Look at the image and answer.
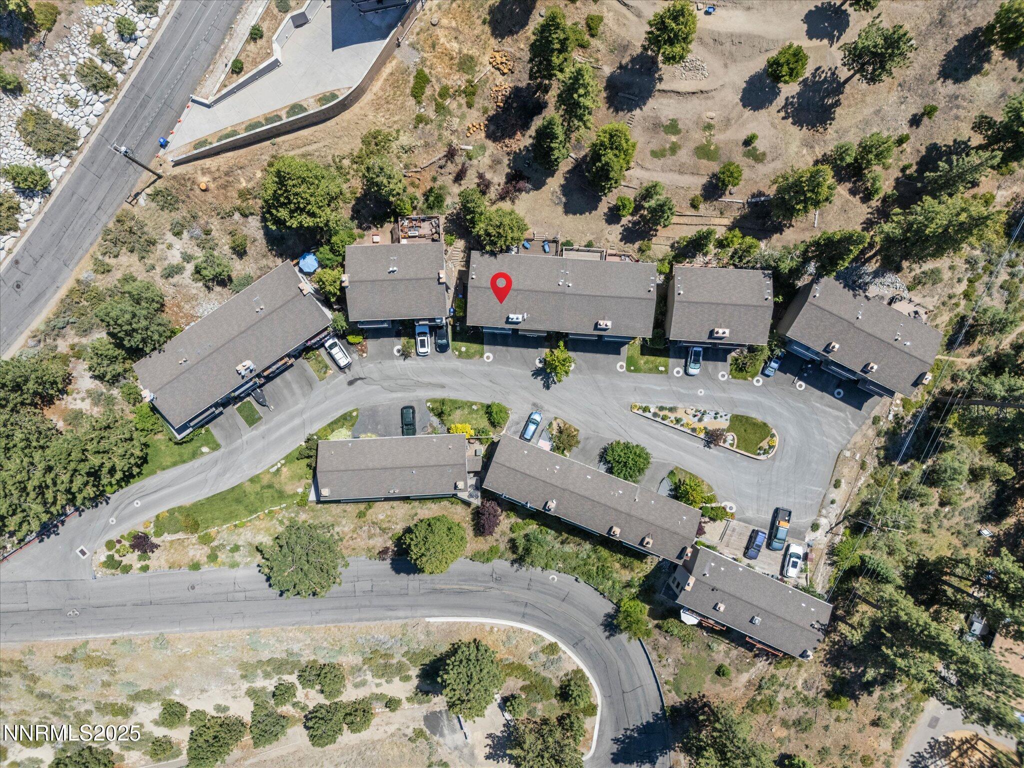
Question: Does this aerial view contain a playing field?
No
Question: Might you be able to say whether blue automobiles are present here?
Yes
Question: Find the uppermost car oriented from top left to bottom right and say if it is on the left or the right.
left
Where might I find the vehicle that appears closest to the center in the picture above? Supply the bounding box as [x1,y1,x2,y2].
[521,410,542,441]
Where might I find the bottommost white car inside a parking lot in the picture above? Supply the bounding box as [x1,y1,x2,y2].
[784,544,803,578]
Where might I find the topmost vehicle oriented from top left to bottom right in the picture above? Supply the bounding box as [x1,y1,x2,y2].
[325,338,351,370]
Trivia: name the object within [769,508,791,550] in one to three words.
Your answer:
truck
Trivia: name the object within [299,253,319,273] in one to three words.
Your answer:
umbrella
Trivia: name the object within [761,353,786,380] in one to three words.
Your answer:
car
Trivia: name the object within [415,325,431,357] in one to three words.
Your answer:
car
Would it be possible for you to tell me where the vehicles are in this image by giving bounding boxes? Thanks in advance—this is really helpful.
[687,348,702,376]
[415,325,431,357]
[745,528,766,559]
[400,405,416,436]
[325,338,351,370]
[434,325,450,353]
[769,508,791,550]
[521,410,542,441]
[784,544,803,578]
[761,353,786,380]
